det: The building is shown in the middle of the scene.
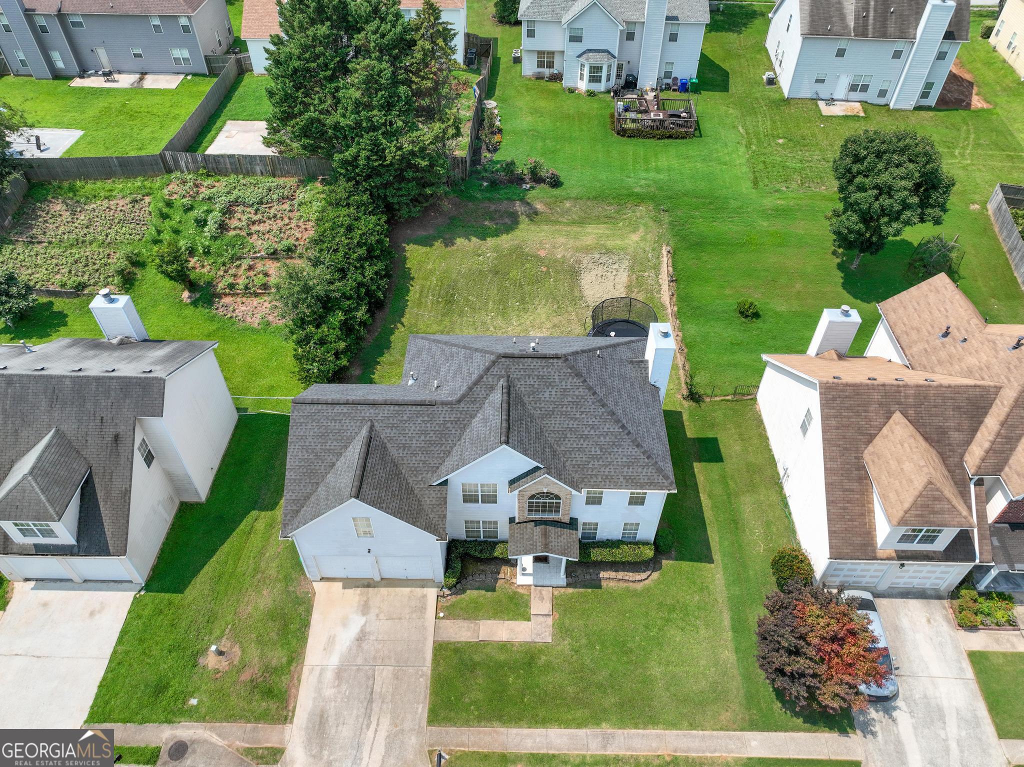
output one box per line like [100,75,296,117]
[282,322,679,586]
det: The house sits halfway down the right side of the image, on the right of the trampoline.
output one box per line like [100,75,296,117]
[756,273,1024,608]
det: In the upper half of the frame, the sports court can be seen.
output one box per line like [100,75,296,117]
[0,129,84,159]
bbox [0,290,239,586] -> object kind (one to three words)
house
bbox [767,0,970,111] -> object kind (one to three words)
house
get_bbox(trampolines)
[589,299,660,338]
